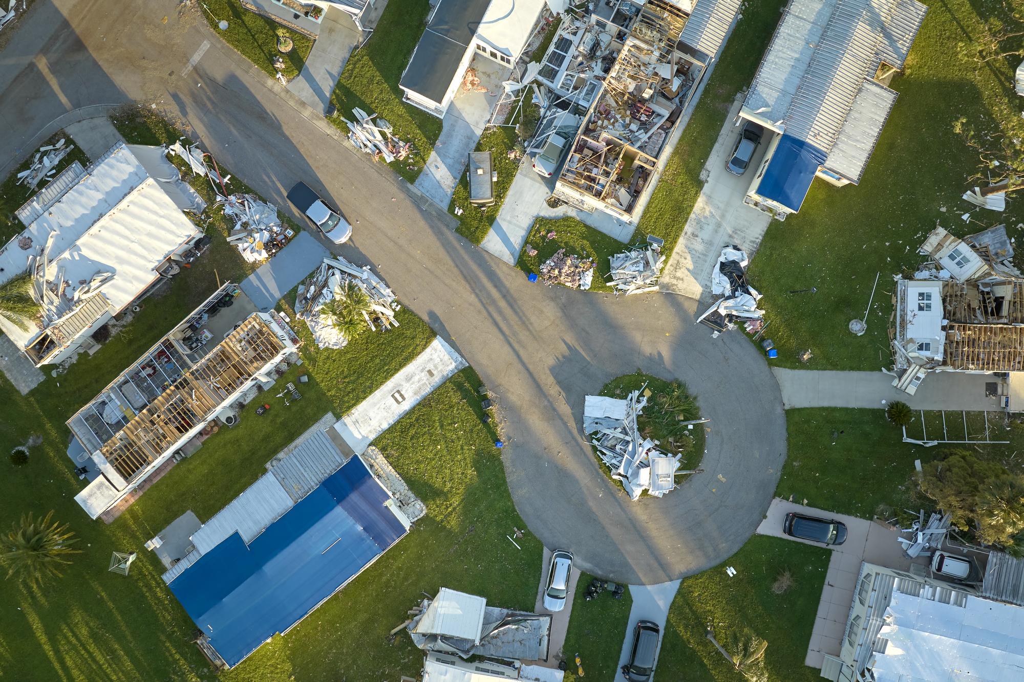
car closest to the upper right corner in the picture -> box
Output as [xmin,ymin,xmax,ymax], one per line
[720,118,771,181]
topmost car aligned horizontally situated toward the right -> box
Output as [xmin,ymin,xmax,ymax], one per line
[783,514,852,552]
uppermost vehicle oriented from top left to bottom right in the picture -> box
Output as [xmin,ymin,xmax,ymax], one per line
[281,178,359,247]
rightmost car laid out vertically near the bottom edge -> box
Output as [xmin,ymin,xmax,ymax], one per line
[625,618,660,682]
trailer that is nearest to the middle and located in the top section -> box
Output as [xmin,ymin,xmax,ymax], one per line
[467,146,497,214]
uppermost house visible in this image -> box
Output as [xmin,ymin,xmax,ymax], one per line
[306,0,373,32]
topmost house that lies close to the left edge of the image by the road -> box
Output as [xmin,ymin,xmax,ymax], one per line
[0,143,215,367]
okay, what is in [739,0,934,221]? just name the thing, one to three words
house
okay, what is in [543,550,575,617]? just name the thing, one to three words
car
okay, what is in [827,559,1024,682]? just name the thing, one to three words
house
